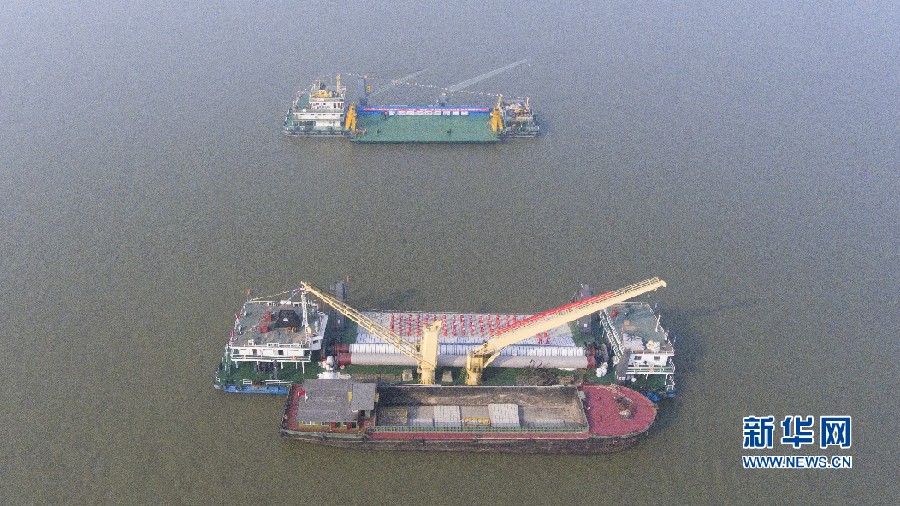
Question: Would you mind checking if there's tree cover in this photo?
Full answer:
No, the scene doesn't show any tree cover.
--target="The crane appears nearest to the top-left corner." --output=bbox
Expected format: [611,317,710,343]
[359,66,432,106]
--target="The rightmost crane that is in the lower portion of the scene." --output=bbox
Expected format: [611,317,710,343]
[461,276,665,383]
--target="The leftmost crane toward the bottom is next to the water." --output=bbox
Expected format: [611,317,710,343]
[302,279,445,383]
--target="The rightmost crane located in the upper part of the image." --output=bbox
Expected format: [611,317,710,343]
[437,58,532,107]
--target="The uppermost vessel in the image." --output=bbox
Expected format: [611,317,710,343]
[284,74,539,144]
